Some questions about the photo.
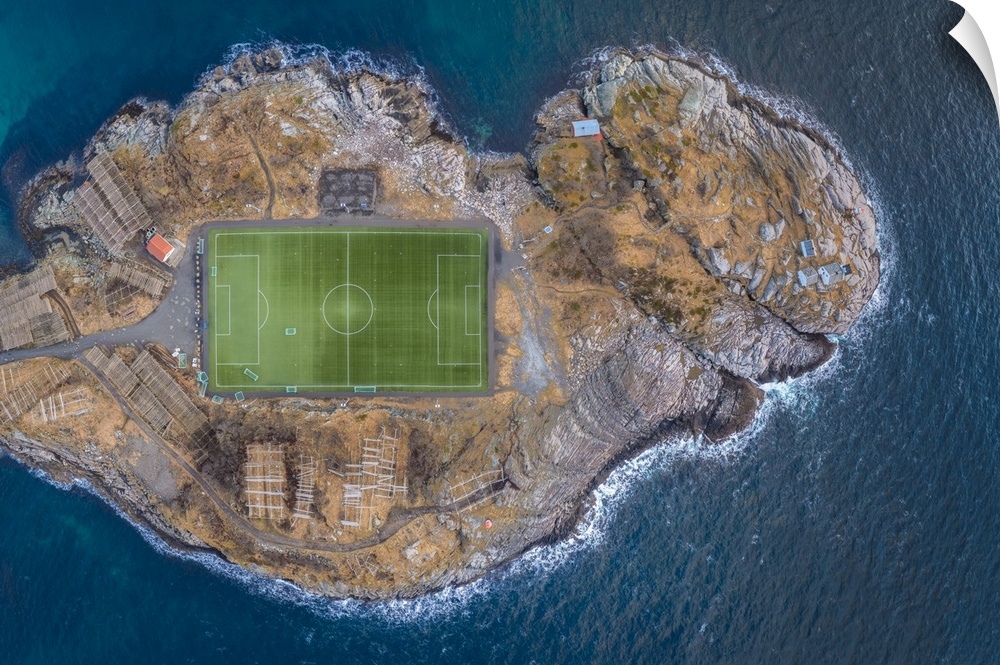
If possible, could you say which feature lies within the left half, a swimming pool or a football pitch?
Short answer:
football pitch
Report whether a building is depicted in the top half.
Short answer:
Yes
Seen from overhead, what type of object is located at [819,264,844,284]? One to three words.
house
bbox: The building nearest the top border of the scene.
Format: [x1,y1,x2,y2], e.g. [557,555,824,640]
[573,116,601,136]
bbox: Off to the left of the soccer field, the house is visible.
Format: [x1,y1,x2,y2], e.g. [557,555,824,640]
[144,233,174,262]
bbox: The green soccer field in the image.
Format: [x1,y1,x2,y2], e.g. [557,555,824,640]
[208,228,488,393]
